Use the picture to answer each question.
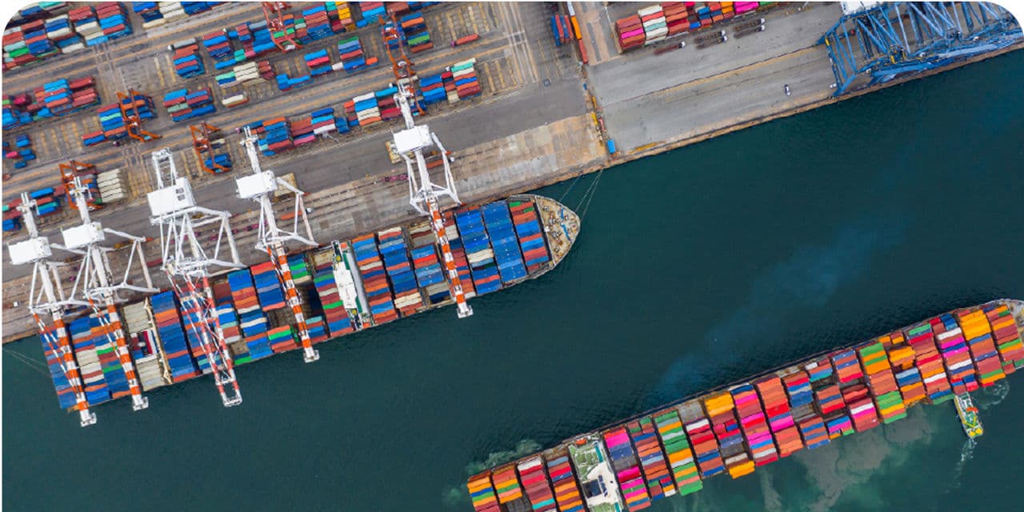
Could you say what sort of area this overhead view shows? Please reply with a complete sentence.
This image shows a port.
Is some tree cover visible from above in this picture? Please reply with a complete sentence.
No, there's no tree cover in this view.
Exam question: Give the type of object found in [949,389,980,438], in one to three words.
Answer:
boat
